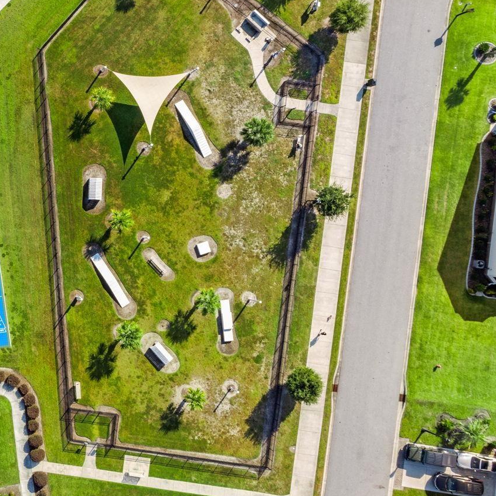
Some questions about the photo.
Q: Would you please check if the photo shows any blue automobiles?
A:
No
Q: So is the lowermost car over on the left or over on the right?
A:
right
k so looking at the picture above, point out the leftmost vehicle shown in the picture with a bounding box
[403,440,456,466]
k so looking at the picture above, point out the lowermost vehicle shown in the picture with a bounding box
[433,471,484,496]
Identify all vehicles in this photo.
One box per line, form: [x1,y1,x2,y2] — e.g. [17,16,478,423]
[433,471,484,496]
[403,440,456,466]
[454,449,496,473]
